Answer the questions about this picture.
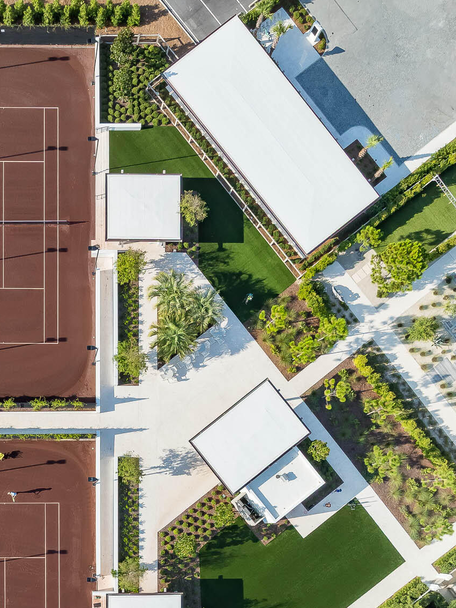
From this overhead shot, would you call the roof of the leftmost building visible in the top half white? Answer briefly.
Yes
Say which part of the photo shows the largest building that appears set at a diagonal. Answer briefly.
top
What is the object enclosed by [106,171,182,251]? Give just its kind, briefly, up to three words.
building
